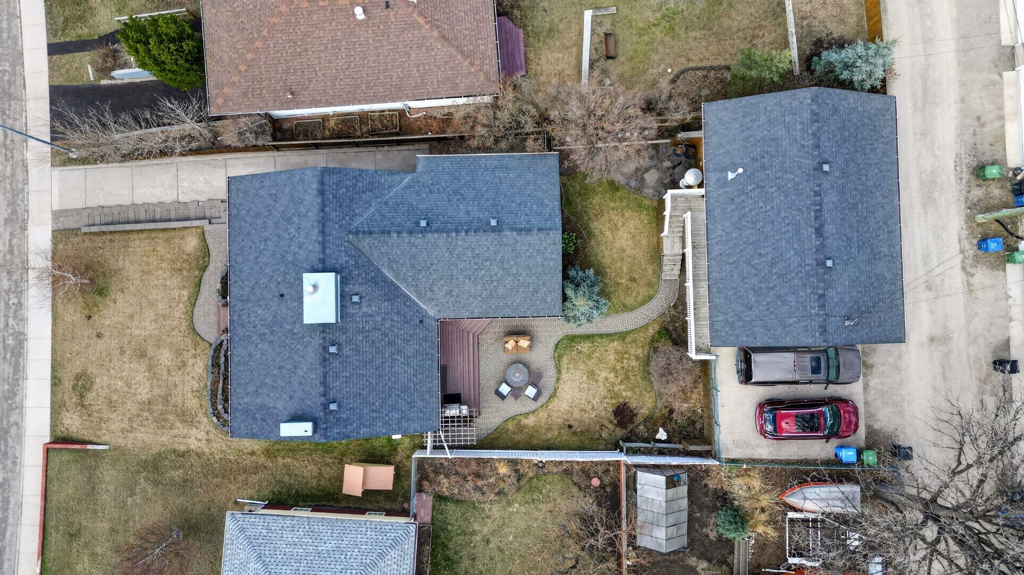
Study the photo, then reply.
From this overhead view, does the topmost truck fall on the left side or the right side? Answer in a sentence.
The topmost truck appears in the right half of the scene.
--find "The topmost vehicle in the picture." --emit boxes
[730,344,860,395]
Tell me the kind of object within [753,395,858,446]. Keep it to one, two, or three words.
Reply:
car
